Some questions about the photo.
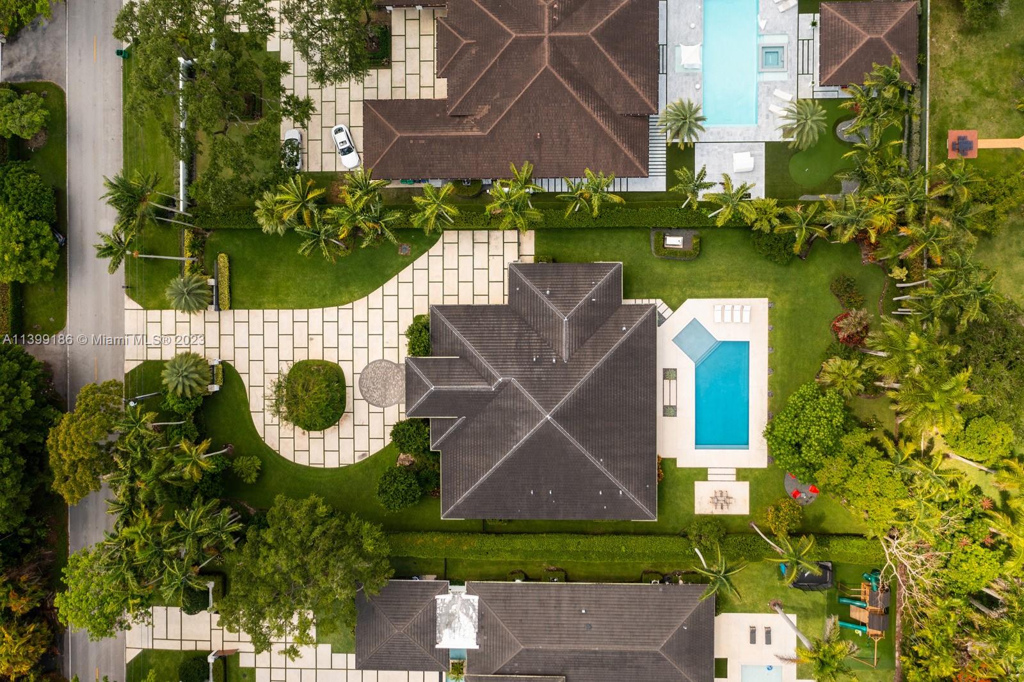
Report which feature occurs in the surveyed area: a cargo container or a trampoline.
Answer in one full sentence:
It is a trampoline that can be seen here.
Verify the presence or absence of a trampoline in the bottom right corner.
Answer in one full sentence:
Yes, looking in the bottom right corner, one can make out a trampoline.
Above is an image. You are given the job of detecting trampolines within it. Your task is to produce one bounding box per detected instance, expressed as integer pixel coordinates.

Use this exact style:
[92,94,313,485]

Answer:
[790,562,842,597]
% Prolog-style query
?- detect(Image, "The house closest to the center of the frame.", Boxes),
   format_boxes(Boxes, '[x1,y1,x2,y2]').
[405,261,659,521]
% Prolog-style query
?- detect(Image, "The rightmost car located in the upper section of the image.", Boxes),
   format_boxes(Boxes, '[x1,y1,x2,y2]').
[329,122,362,171]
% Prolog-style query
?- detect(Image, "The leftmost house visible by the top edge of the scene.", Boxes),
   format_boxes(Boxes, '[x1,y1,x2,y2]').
[362,0,660,183]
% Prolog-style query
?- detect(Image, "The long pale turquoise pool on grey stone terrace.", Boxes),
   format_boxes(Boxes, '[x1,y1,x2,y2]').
[703,0,758,125]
